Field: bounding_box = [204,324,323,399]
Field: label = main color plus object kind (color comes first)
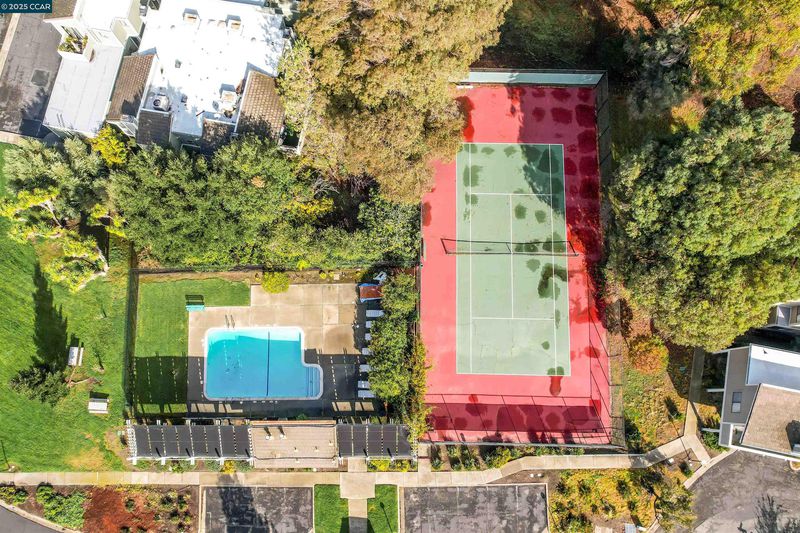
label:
blue swimming pool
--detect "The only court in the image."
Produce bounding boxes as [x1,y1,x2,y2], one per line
[417,84,609,446]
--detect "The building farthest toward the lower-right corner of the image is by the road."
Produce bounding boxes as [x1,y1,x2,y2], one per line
[701,347,800,462]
